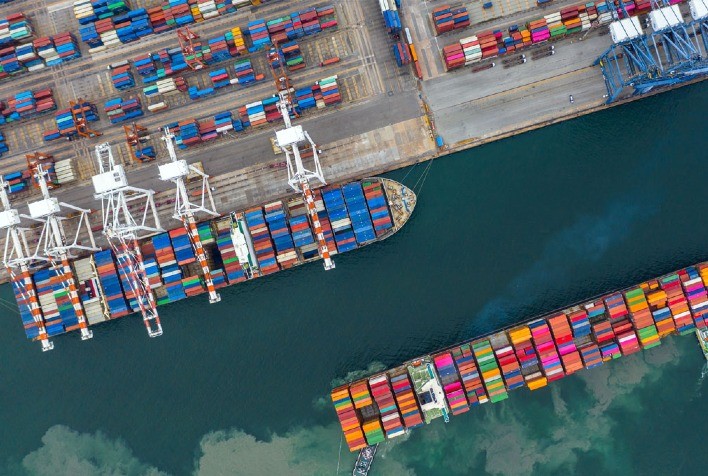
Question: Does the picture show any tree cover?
No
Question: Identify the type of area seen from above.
port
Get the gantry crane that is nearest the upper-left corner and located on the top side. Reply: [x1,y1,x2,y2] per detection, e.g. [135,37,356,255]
[69,99,106,143]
